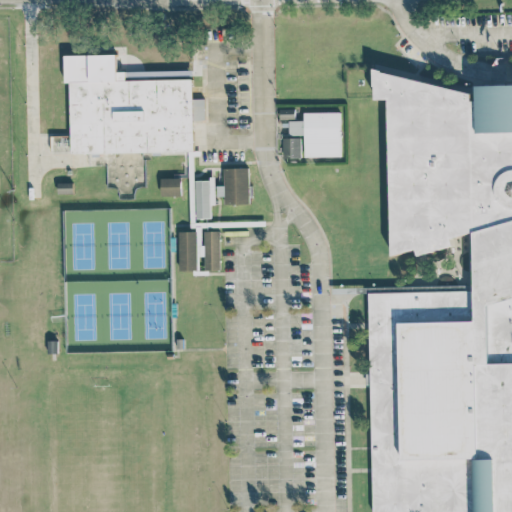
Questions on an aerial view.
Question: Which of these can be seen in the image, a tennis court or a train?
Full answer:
This aerial view contains a tennis court.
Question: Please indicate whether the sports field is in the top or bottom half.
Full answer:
It is in the bottom half that the sports field appears.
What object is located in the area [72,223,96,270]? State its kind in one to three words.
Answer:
tennis court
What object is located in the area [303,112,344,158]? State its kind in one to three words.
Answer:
building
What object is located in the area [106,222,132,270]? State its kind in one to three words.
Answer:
tennis court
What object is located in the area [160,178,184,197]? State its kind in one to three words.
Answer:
building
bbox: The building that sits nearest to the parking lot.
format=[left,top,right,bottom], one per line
[204,232,221,271]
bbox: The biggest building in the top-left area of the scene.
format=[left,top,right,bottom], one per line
[63,46,196,154]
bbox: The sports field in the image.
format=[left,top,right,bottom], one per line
[54,388,152,512]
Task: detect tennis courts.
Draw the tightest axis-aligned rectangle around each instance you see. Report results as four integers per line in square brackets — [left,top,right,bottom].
[142,221,168,268]
[72,223,96,270]
[144,292,167,340]
[72,294,98,341]
[106,222,132,270]
[109,293,132,340]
